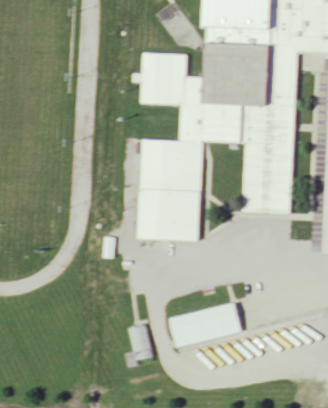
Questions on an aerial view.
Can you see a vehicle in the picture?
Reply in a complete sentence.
Yes, you can see a vehicle in this photo.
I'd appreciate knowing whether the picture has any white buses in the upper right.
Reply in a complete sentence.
No, the scene shows no white bus in the upper right.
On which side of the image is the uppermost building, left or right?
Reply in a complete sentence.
The uppermost building sits on the right side.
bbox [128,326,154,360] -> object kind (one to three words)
building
